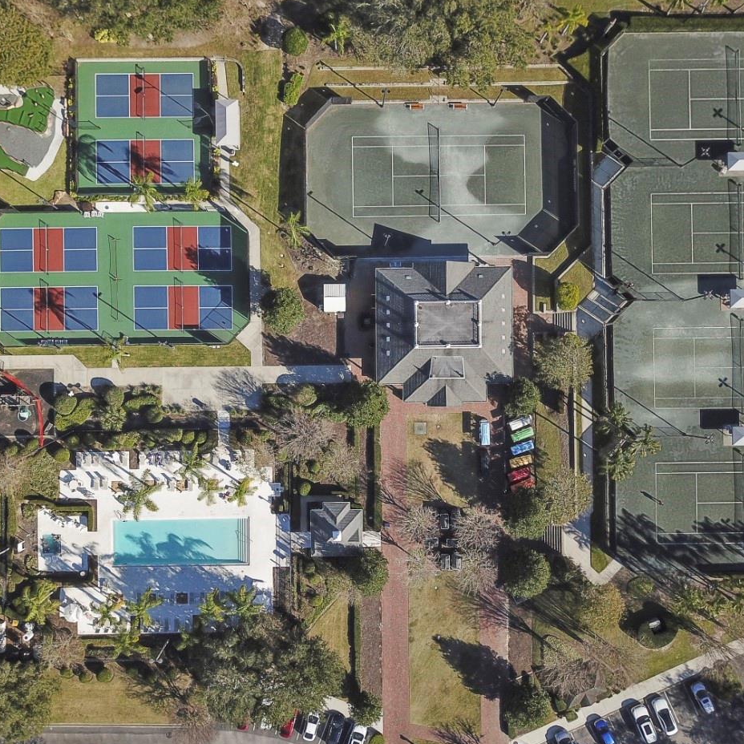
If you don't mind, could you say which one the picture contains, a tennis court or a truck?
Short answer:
tennis court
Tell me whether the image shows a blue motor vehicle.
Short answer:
Yes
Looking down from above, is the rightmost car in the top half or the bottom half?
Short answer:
bottom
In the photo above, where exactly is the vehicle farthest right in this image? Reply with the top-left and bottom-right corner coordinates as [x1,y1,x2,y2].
[689,681,714,714]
